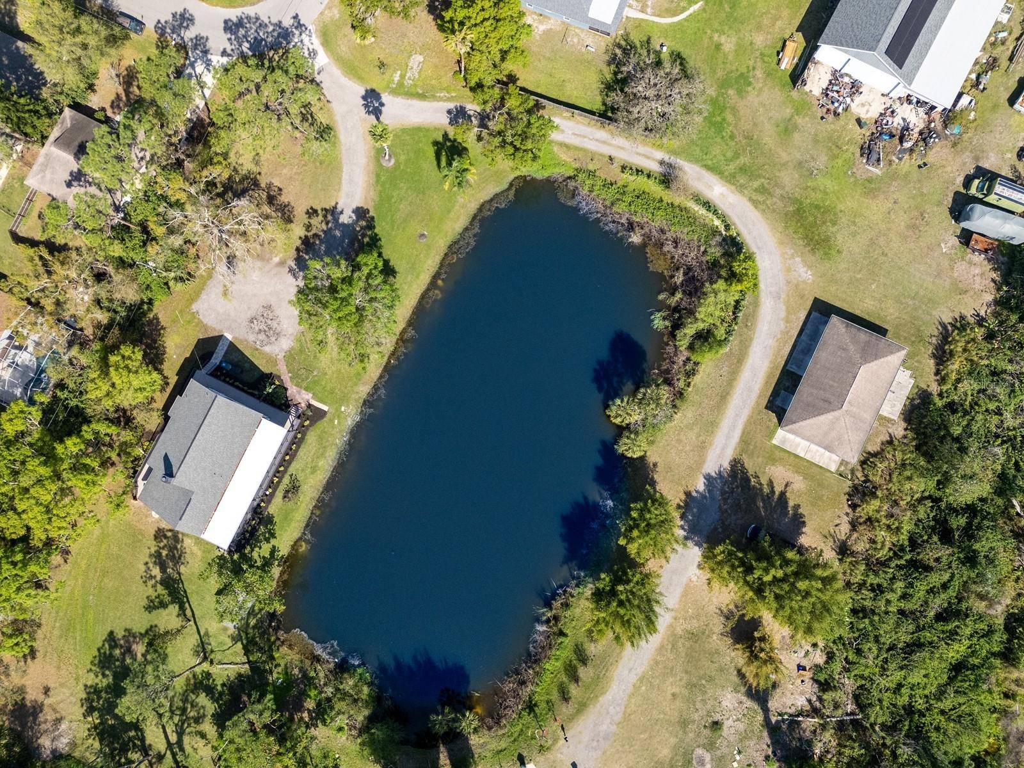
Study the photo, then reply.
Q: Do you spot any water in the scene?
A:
Yes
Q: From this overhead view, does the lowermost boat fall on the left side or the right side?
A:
right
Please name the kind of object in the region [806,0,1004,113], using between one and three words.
barn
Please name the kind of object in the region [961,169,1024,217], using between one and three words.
truck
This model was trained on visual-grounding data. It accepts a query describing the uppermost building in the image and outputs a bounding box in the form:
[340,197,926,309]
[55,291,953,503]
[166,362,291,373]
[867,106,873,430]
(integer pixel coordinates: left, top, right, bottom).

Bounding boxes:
[520,0,631,47]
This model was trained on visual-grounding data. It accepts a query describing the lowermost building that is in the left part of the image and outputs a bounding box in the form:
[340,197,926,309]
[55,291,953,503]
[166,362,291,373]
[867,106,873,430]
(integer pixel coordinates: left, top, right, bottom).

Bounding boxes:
[134,369,313,552]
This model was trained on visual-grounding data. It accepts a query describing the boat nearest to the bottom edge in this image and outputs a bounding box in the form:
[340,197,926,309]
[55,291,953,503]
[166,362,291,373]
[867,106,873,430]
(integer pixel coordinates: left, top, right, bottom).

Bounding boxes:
[949,206,1024,251]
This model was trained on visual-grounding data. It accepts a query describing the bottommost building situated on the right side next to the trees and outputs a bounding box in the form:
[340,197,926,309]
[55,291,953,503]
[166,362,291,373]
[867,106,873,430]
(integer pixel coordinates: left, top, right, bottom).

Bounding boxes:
[772,311,914,472]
